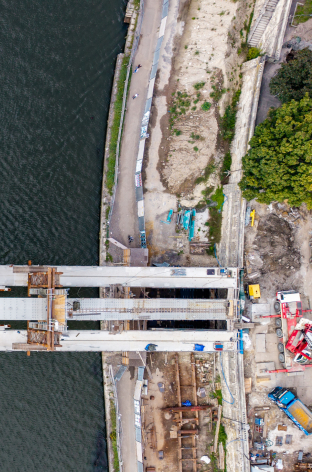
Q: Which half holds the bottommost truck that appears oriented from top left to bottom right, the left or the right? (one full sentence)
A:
You can find the bottommost truck that appears oriented from top left to bottom right on the right side of the picture.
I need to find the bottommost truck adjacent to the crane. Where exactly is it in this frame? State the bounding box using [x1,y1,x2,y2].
[263,386,312,436]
